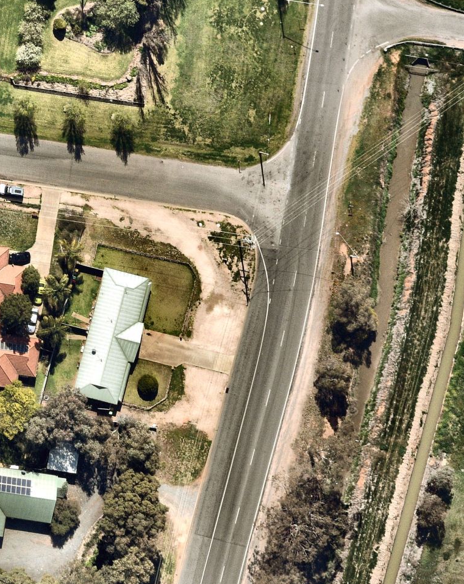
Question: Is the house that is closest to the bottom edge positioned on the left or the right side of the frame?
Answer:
left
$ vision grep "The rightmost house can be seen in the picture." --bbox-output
[74,266,152,405]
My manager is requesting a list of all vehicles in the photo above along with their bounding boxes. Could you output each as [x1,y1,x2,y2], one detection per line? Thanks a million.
[34,279,49,306]
[9,250,32,265]
[0,185,26,200]
[26,307,40,329]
